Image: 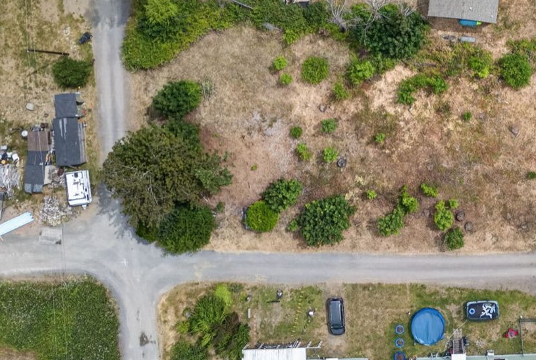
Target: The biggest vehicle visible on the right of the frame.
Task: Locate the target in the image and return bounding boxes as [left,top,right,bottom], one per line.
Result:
[326,298,344,337]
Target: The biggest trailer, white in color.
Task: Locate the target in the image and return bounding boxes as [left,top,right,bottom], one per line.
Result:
[67,170,98,209]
